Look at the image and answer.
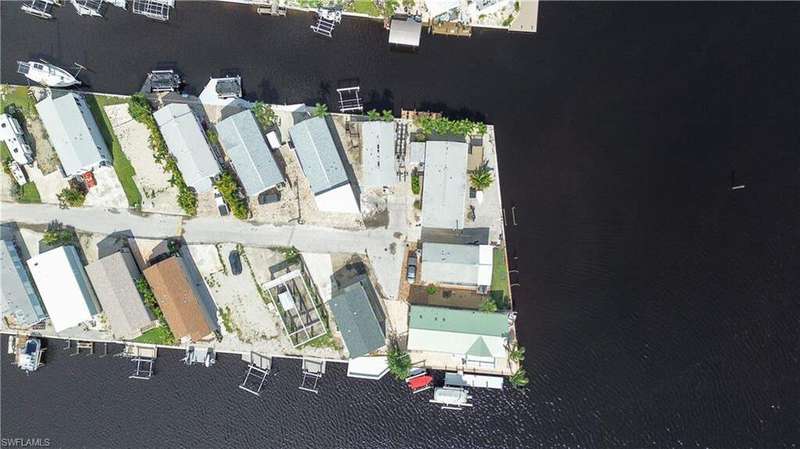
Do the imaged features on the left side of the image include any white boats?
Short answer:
Yes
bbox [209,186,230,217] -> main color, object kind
white vehicle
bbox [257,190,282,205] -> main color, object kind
gray car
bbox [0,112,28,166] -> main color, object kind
white vehicle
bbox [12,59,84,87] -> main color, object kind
white boat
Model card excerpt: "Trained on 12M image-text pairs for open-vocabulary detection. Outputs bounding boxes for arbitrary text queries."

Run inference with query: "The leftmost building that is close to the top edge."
[388,19,421,52]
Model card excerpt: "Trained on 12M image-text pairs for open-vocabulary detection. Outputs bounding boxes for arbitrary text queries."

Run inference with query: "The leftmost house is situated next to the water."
[0,240,46,333]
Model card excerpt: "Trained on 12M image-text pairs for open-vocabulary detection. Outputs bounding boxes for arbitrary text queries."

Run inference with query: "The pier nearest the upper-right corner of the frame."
[433,20,472,39]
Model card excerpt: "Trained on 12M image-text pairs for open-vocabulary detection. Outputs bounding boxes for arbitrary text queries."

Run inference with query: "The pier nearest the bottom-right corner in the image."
[463,374,503,389]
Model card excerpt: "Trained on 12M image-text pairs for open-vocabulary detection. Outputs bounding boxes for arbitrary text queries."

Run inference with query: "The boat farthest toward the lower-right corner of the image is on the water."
[434,387,471,407]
